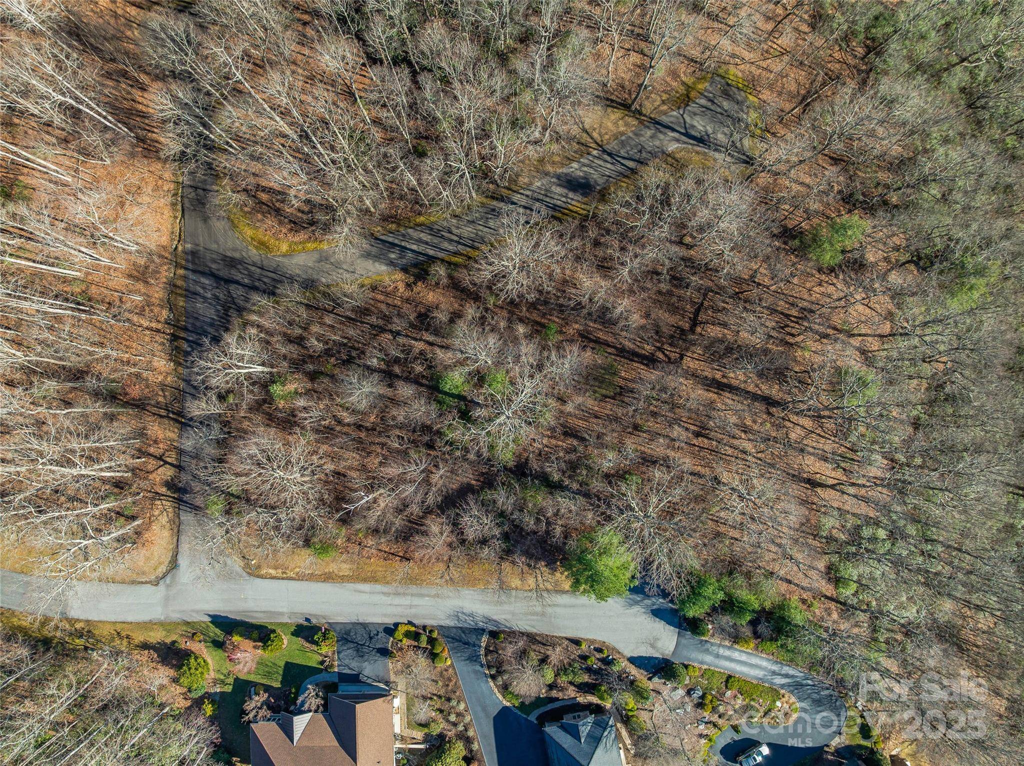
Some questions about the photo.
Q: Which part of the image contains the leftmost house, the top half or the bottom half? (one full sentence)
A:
The leftmost house sits in the bottom half of the picture.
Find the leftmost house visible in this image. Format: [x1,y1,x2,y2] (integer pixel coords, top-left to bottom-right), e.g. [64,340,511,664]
[249,687,394,766]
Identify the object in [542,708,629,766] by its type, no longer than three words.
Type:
house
